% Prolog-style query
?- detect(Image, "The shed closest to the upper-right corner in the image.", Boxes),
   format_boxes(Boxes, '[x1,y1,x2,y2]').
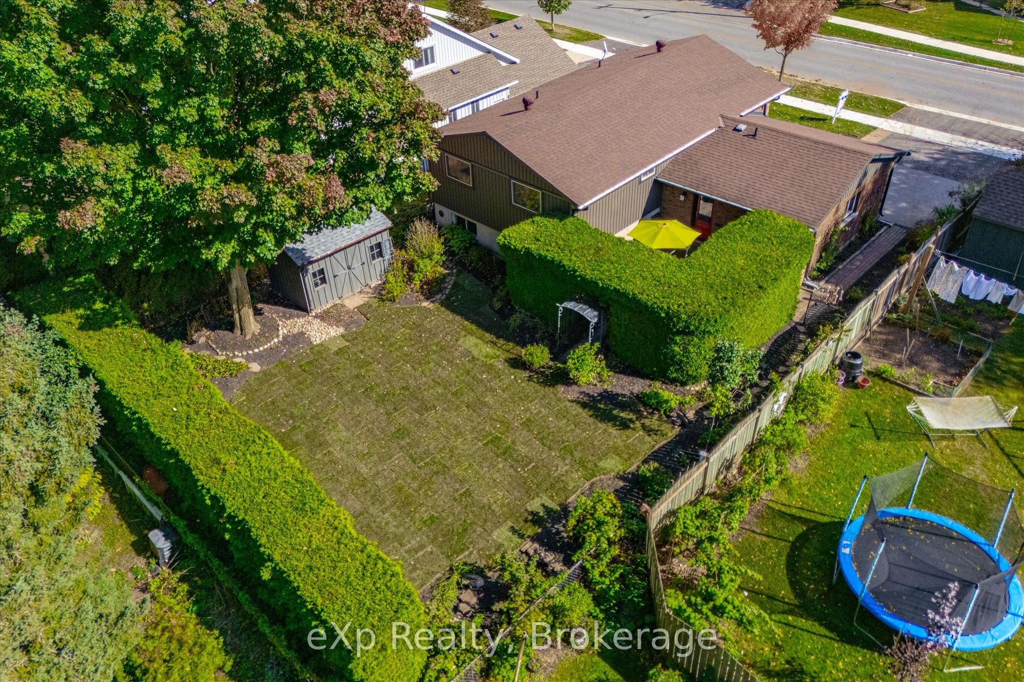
[961,157,1024,288]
